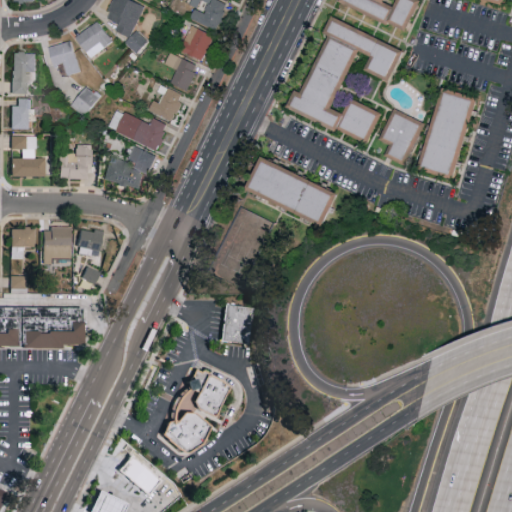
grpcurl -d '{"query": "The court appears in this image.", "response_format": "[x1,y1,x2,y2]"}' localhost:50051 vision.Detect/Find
[214,206,276,284]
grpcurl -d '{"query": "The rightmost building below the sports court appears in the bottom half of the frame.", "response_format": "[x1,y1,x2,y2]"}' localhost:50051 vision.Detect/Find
[222,302,254,346]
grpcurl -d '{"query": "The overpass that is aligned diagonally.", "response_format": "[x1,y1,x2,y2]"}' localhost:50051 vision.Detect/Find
[418,320,512,420]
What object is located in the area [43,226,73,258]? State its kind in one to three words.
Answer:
house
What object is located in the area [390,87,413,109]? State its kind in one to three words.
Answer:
swimming pool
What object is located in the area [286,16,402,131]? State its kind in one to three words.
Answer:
building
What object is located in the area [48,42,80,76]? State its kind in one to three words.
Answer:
house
